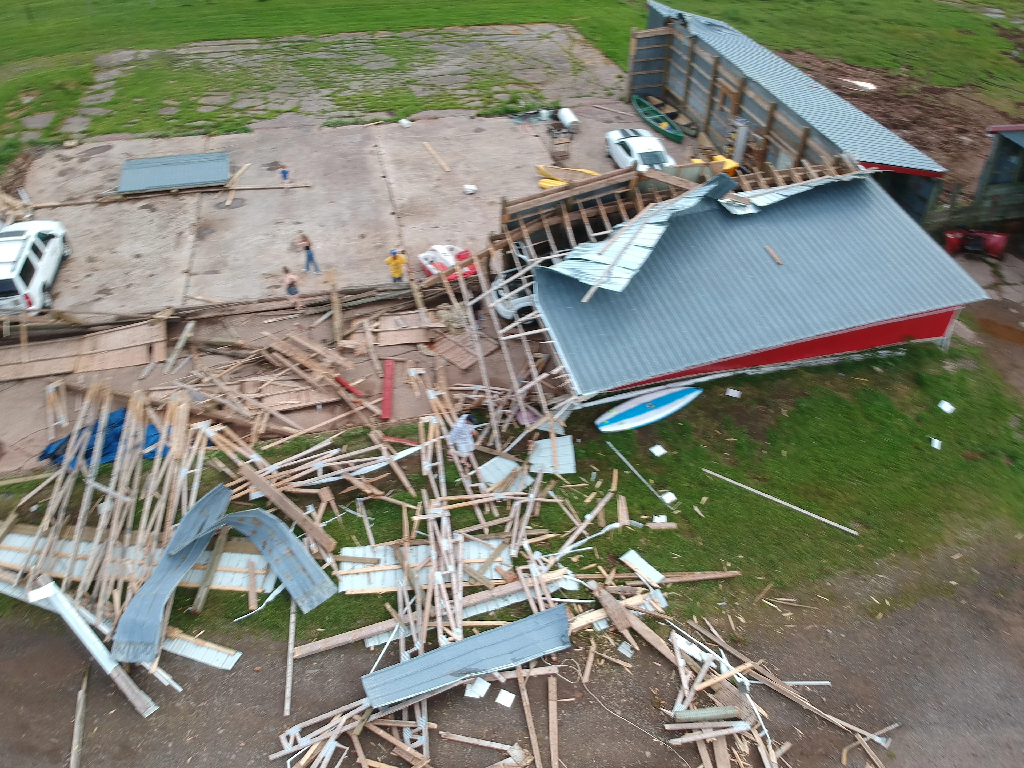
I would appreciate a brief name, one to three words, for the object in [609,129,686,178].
car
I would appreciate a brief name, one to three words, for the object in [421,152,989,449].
barn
